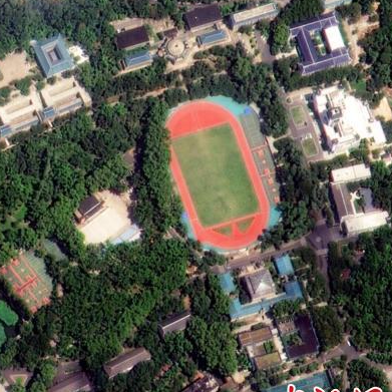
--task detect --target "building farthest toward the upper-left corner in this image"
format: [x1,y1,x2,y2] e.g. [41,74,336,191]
[34,34,75,79]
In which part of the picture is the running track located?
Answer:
center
